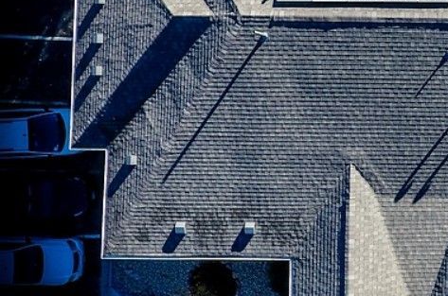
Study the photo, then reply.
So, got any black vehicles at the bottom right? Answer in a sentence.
No, looking at the bottom right, there is no black vehicle.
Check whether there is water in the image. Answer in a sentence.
No, no water is visible.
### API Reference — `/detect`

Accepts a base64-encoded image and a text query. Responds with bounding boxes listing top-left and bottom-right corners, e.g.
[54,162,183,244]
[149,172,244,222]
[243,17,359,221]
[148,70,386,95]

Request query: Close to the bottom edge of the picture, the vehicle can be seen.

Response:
[0,233,88,295]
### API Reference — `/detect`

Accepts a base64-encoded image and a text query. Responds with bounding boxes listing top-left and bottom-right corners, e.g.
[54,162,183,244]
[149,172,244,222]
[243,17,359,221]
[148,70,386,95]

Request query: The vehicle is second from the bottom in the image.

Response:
[0,174,91,234]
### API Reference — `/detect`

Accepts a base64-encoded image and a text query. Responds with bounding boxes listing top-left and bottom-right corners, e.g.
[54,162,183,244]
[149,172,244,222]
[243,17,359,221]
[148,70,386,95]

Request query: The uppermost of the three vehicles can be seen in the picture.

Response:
[0,104,81,164]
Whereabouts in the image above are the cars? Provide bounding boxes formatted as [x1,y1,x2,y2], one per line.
[0,104,81,164]
[0,174,91,234]
[0,233,88,295]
